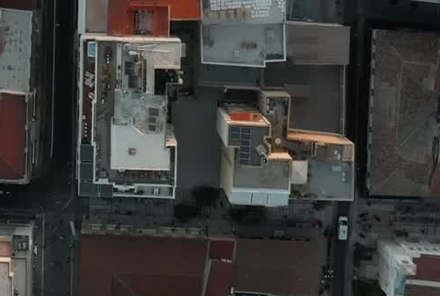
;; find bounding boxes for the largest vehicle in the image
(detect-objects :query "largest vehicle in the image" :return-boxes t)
[338,217,350,243]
